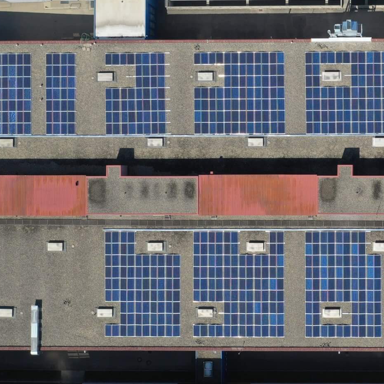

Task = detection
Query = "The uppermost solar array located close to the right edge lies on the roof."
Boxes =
[306,51,384,134]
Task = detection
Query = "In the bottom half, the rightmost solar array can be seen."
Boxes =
[305,231,382,338]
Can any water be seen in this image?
No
